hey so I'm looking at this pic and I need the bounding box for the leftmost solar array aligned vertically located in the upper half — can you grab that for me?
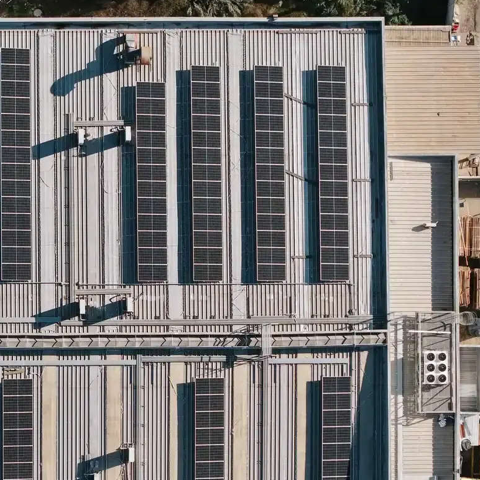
[0,48,31,281]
